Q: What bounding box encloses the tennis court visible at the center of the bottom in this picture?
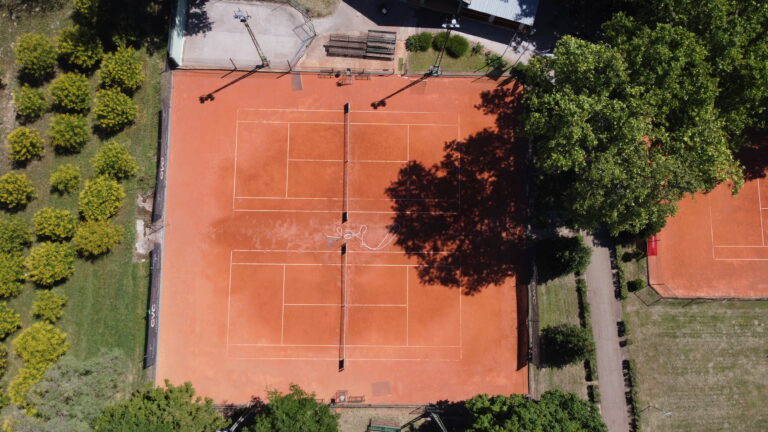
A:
[154,229,530,406]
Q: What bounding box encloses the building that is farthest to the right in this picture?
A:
[458,0,539,38]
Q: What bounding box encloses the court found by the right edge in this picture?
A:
[640,116,768,299]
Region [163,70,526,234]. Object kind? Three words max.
tennis court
